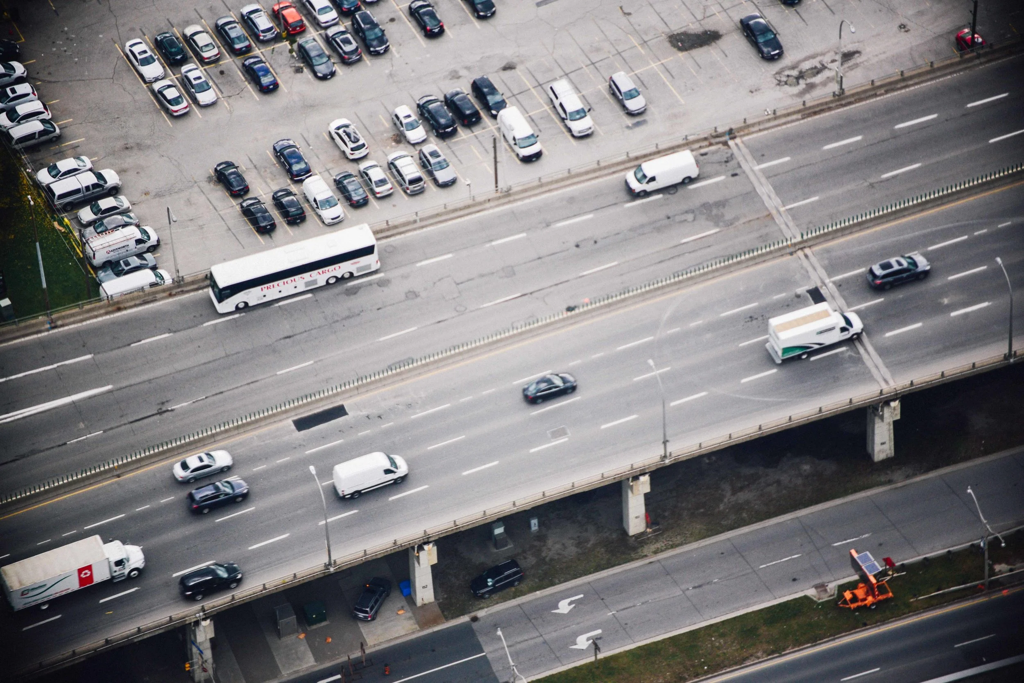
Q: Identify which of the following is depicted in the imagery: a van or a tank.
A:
van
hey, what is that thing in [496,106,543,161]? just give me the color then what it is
white van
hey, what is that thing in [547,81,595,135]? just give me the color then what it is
white truck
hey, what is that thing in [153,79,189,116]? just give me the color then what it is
white car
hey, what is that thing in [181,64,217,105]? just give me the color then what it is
white car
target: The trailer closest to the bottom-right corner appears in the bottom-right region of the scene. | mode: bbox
[835,549,894,613]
